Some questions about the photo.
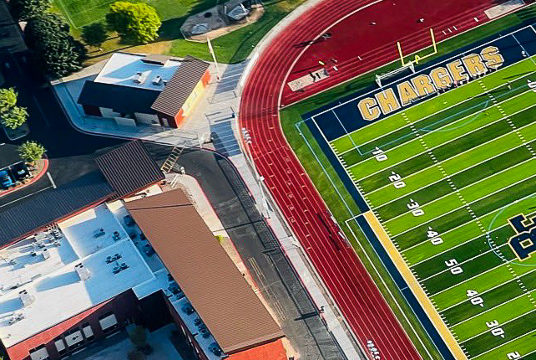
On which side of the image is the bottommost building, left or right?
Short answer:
left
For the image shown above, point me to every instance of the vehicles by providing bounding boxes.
[0,166,10,186]
[14,163,27,181]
